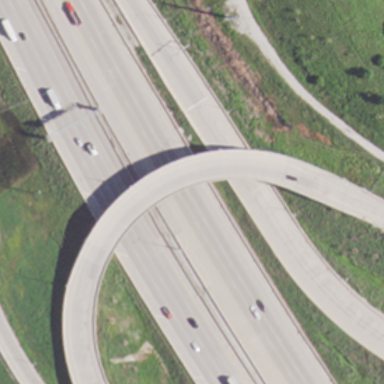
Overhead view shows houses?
No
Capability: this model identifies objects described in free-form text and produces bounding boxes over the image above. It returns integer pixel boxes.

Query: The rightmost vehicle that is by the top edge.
[66,2,81,25]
